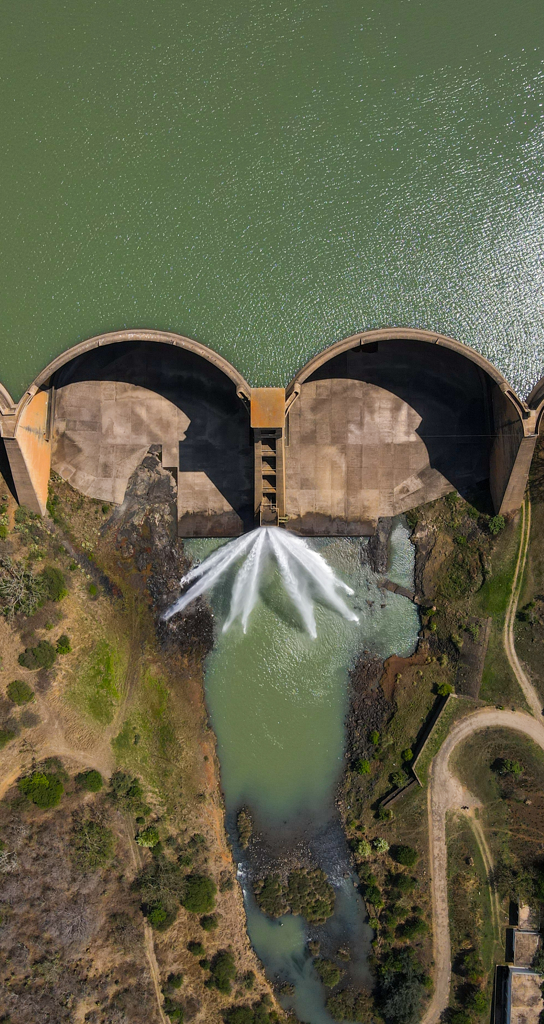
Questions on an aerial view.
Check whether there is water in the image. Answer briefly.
Yes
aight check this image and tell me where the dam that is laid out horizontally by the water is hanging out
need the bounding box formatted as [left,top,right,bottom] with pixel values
[0,330,544,537]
